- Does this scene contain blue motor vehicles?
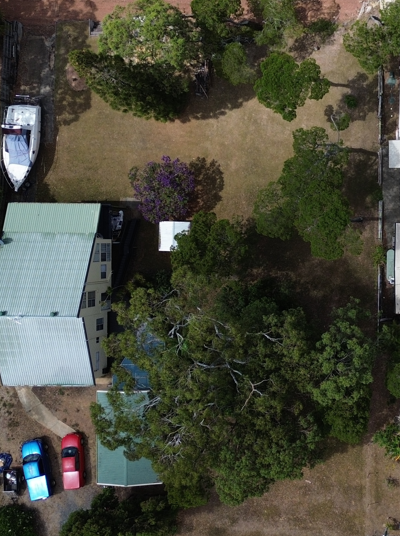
Yes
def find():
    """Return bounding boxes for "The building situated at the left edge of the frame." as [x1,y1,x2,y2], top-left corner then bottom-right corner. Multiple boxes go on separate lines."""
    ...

[0,202,113,387]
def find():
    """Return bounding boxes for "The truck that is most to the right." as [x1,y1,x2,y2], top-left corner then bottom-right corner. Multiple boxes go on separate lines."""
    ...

[58,431,87,489]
